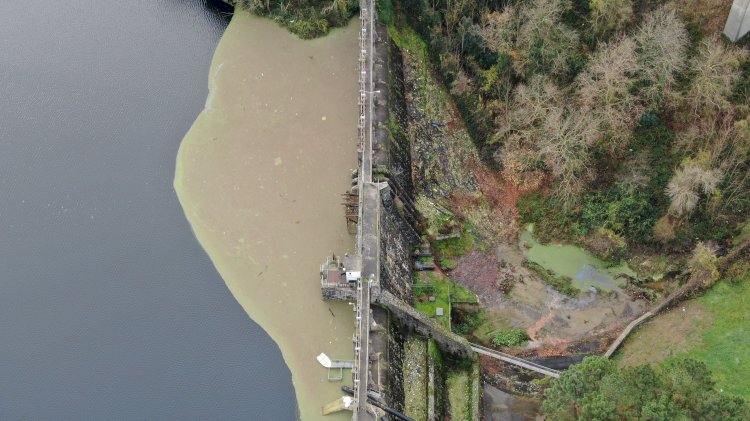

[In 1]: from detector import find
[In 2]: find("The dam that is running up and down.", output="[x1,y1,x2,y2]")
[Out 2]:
[349,0,428,421]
